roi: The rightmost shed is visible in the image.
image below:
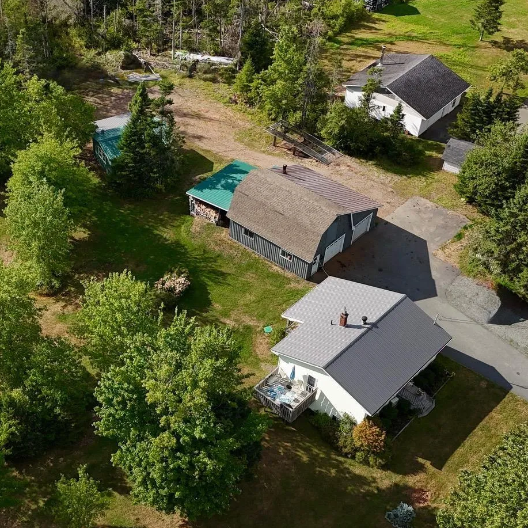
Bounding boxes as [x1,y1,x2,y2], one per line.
[442,138,486,177]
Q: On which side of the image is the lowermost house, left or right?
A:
right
